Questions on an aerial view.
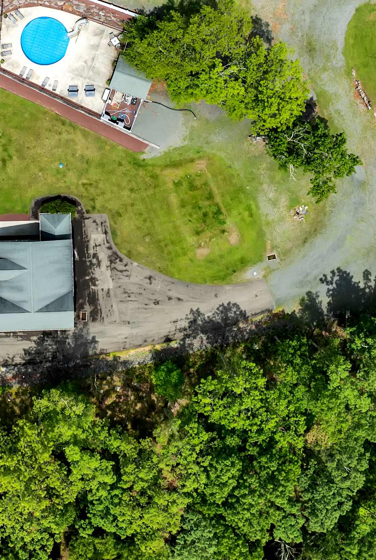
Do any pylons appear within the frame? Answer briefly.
No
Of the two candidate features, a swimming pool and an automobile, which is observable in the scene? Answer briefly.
swimming pool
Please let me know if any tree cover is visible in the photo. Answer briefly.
Yes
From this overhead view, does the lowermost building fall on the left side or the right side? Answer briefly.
left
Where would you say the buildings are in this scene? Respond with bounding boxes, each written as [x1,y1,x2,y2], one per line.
[0,239,75,332]
[109,45,154,100]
